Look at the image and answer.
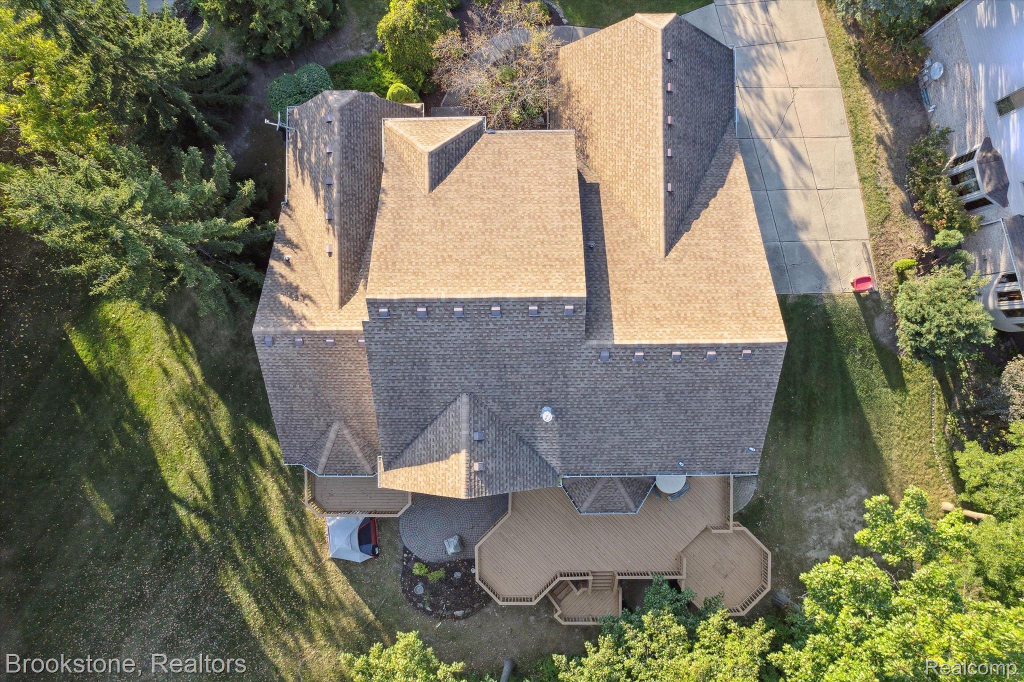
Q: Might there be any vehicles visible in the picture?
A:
No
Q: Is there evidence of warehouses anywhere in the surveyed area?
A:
No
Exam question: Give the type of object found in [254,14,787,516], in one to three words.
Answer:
house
